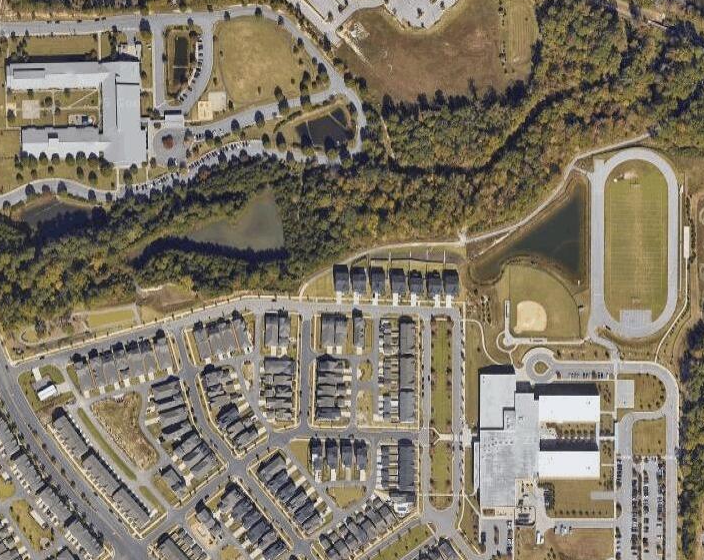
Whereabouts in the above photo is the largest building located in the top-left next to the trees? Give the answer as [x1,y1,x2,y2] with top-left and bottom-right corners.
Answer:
[7,62,144,167]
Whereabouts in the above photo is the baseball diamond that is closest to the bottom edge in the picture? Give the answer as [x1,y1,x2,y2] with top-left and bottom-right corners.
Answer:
[510,263,581,338]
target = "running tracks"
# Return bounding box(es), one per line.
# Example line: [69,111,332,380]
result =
[590,148,679,337]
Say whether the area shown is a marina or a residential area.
residential area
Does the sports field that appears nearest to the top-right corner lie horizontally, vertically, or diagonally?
vertically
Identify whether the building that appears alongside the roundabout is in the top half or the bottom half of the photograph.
bottom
